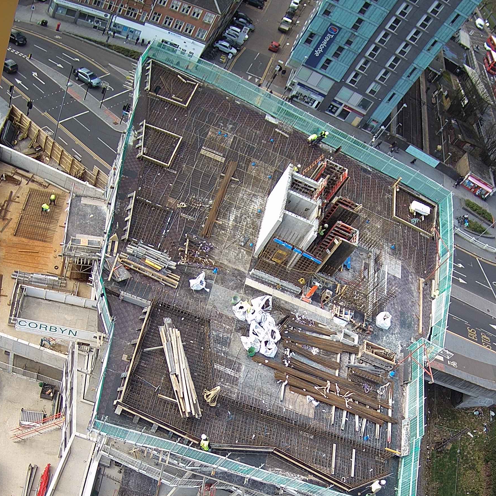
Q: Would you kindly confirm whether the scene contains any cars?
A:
Yes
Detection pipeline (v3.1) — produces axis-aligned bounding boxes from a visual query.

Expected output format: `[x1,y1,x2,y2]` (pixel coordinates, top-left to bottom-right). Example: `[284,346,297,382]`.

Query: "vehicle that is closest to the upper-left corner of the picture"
[15,26,33,43]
